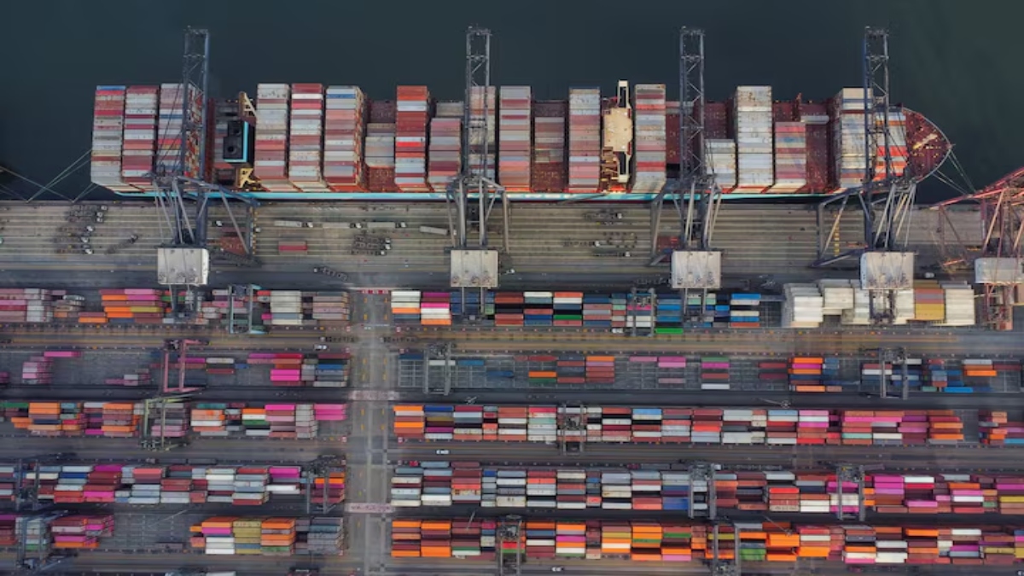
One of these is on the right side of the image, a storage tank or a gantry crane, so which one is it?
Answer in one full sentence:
The feature located on the right side of the image is a gantry crane.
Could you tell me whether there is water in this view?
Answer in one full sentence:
Yes, water shows up in the scene.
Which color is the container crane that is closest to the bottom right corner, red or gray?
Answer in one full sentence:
The container crane that is closest to the bottom right corner looks gray in the image.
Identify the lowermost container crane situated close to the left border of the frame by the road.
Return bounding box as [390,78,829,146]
[16,503,77,574]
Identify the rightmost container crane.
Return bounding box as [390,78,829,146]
[925,167,1024,326]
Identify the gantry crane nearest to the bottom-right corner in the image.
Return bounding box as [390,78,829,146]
[815,455,863,520]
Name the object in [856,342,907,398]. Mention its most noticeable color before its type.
gray container crane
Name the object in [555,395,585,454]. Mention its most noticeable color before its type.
gray container crane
